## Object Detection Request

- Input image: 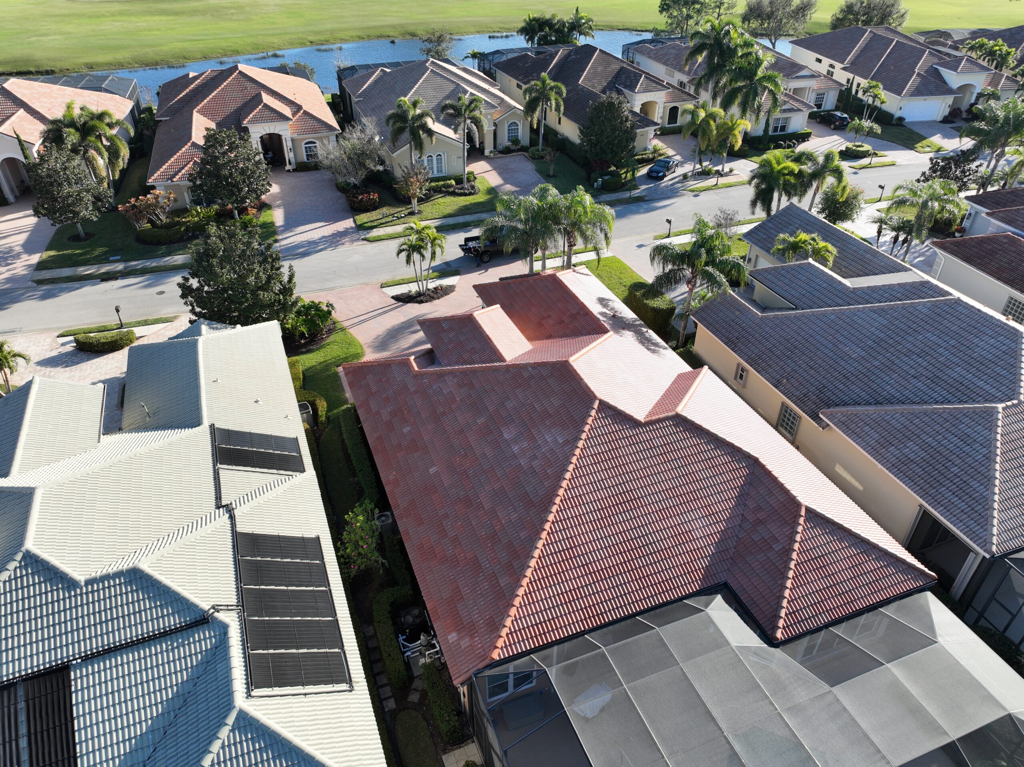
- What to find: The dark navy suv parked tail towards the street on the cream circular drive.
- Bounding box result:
[816,110,850,128]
